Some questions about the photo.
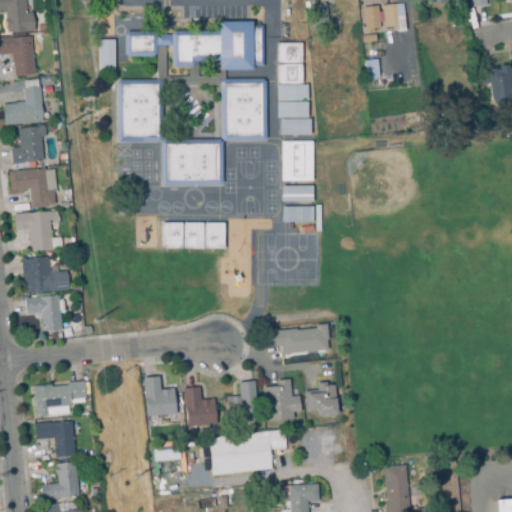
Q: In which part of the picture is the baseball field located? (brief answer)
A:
right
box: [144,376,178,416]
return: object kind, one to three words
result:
house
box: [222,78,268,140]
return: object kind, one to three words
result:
building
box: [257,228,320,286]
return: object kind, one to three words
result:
sports court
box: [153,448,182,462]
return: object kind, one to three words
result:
shed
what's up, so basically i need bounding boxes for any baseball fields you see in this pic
[350,144,512,451]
